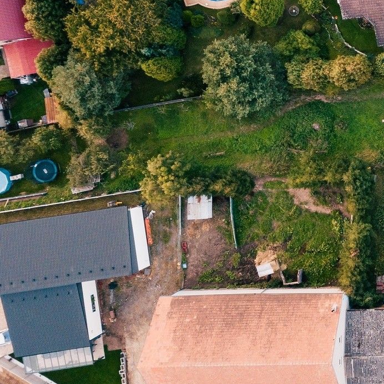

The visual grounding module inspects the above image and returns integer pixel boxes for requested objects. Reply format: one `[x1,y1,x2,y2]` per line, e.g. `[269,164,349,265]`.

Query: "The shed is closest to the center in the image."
[187,194,217,220]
